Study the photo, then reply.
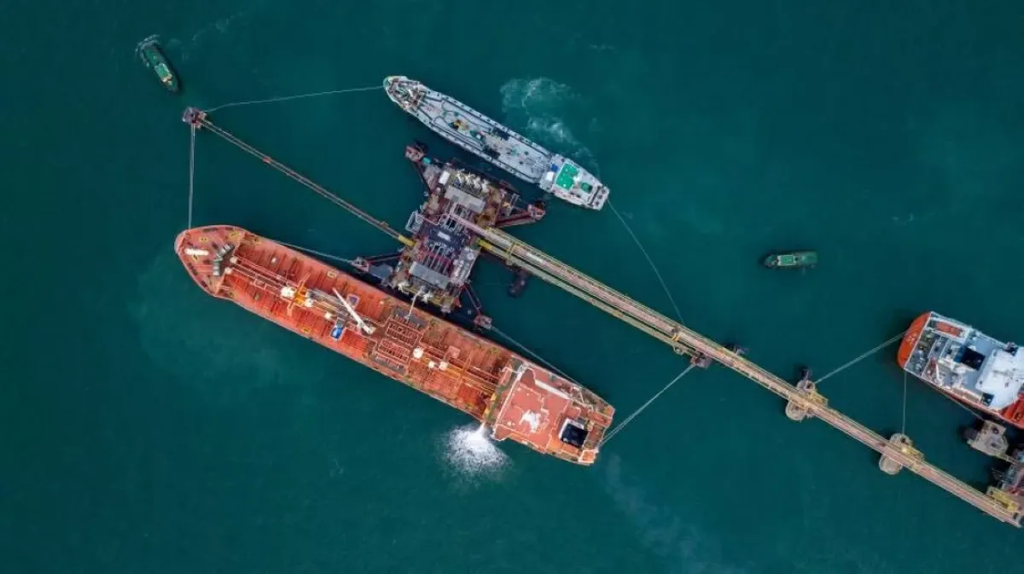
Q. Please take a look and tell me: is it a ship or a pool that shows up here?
ship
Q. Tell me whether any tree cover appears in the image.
No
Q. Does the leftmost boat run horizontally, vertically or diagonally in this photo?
diagonally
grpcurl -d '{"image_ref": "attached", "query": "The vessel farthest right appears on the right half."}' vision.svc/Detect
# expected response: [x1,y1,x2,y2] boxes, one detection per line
[898,312,1024,430]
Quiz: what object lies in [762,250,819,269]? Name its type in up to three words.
boat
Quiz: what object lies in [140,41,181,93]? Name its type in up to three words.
boat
